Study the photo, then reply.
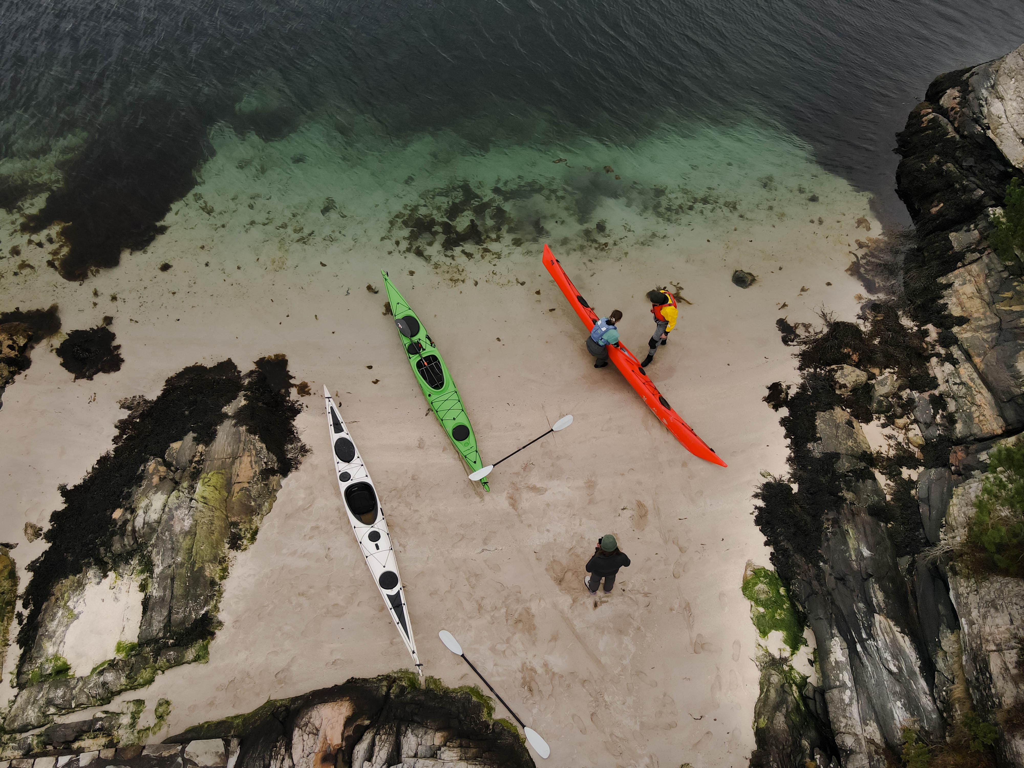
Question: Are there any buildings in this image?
No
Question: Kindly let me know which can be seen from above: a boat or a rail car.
boat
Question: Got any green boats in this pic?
Yes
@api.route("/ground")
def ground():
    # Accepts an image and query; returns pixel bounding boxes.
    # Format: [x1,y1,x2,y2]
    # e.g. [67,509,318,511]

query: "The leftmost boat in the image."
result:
[325,387,421,673]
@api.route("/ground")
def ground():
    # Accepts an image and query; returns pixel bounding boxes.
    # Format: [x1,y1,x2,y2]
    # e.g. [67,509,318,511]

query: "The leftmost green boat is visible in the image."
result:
[382,273,487,490]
